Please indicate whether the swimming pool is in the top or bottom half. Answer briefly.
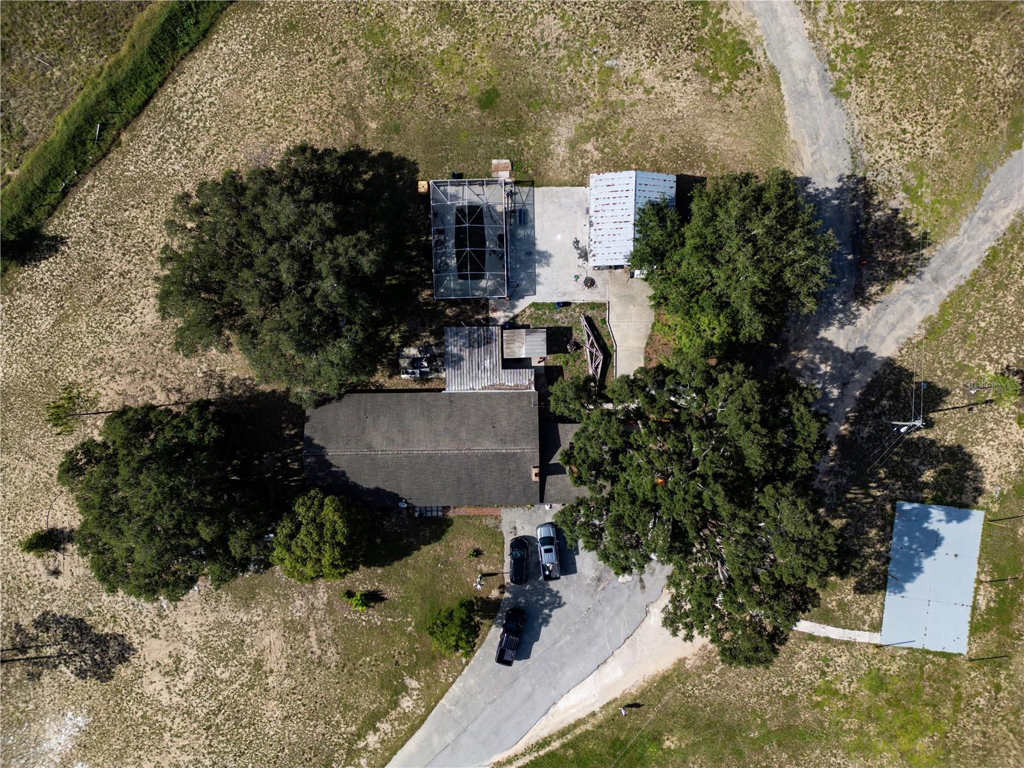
top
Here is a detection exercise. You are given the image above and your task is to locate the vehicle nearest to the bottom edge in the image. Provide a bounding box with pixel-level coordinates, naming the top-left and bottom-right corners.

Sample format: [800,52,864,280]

[495,608,524,671]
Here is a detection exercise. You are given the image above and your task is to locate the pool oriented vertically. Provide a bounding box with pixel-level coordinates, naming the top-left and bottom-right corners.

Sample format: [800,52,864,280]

[452,203,488,282]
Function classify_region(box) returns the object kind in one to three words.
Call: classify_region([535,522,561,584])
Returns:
truck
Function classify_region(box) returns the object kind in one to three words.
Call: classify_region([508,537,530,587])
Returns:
car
